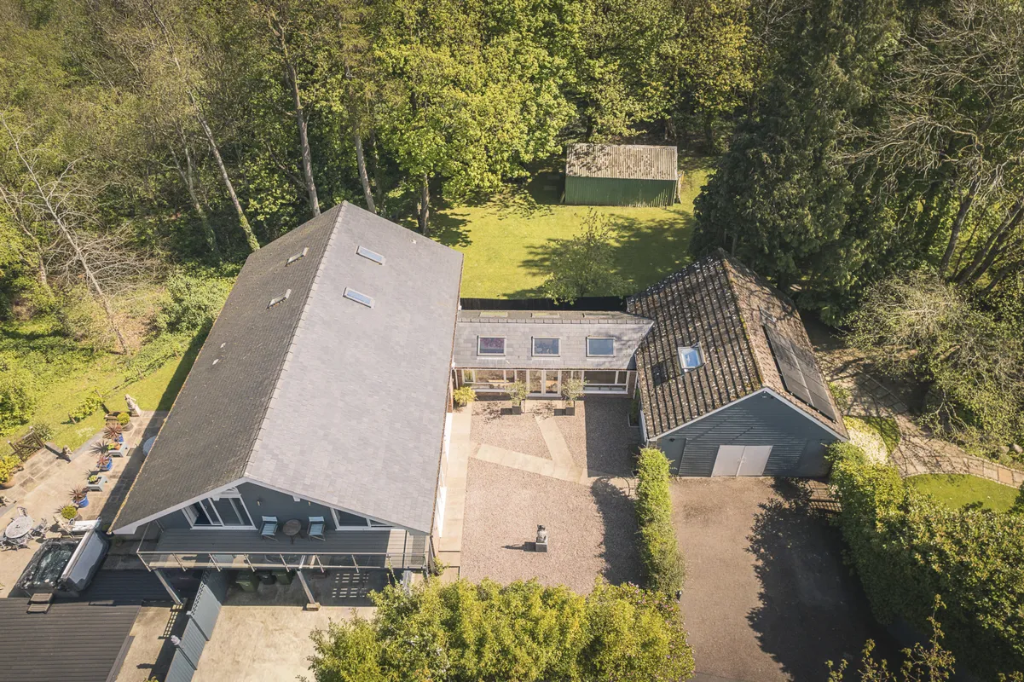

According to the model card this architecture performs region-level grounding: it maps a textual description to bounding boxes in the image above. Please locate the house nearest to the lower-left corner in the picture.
[106,198,464,611]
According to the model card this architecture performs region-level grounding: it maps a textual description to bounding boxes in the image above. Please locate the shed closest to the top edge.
[564,142,682,207]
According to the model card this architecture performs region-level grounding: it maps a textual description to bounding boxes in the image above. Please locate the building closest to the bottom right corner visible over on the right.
[624,243,852,478]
